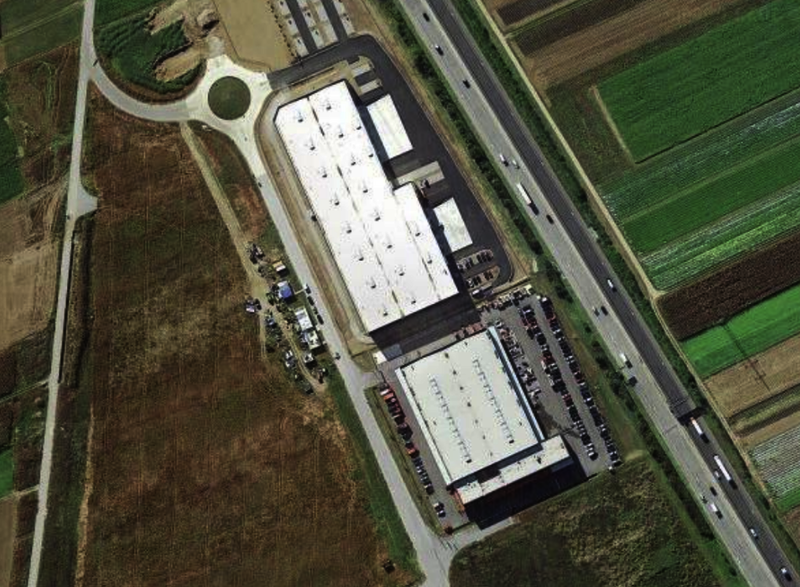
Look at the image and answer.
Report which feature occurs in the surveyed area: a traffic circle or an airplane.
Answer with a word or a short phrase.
traffic circle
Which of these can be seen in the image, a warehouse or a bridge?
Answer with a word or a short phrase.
warehouse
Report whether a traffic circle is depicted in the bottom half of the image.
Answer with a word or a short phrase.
No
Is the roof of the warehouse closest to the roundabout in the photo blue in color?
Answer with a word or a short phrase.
No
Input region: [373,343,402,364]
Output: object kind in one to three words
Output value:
shed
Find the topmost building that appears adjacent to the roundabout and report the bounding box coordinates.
[272,78,459,333]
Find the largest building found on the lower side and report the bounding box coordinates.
[396,326,544,485]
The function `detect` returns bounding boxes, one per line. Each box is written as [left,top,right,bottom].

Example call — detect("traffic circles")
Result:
[186,54,273,174]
